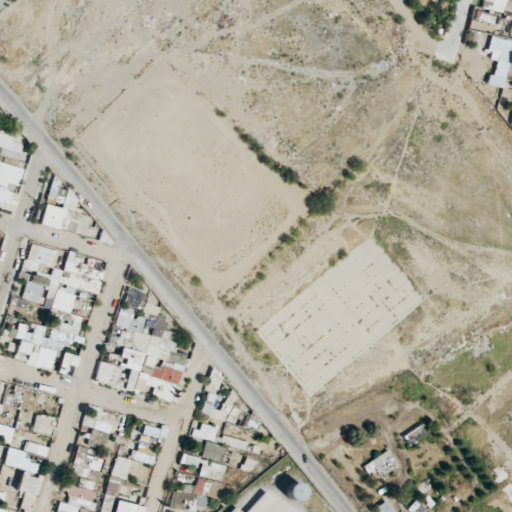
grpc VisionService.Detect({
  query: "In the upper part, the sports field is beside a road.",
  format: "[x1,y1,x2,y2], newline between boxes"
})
[96,68,310,282]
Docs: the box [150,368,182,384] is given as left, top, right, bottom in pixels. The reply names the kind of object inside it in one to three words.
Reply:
house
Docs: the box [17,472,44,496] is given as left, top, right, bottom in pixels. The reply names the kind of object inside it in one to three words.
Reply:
house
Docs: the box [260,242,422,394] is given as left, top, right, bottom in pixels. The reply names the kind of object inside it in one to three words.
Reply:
sports court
